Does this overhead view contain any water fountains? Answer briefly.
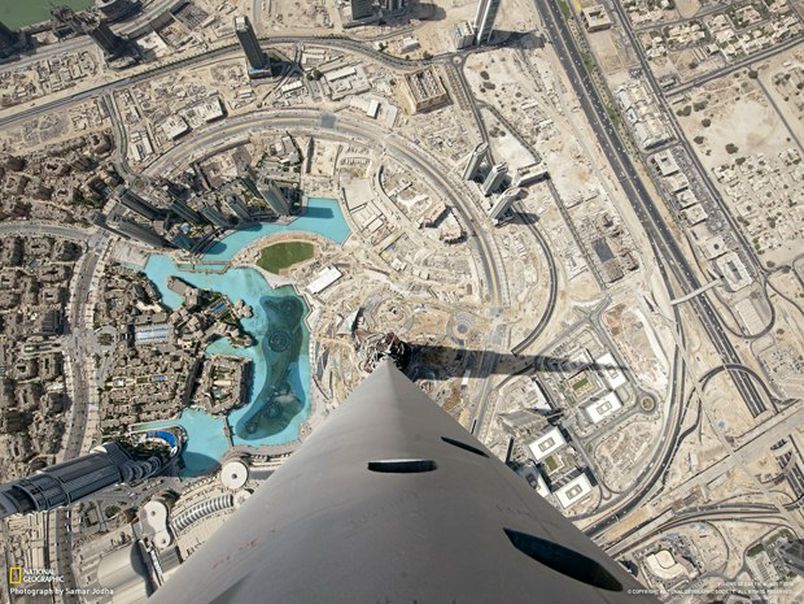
Yes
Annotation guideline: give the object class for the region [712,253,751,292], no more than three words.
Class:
building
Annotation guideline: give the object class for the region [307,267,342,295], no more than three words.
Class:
shed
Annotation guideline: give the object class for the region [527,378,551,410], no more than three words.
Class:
building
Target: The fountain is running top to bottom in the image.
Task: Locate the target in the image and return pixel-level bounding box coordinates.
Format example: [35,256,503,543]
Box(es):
[236,289,304,440]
